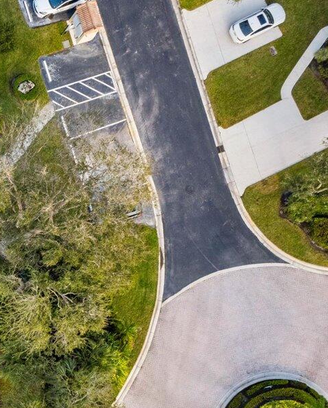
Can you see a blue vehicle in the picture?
No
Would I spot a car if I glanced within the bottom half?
No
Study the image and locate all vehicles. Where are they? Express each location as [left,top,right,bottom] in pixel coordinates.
[31,0,82,18]
[227,4,286,44]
